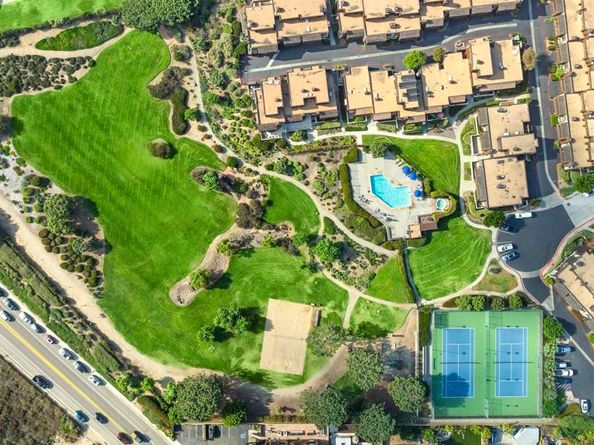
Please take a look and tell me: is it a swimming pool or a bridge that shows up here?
swimming pool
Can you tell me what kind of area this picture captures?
residential area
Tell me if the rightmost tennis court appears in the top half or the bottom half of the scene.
bottom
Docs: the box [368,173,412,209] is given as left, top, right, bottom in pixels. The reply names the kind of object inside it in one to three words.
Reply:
swimming pool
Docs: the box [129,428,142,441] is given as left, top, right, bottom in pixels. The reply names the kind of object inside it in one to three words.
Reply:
vehicle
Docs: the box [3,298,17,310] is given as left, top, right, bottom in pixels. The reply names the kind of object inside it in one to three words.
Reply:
vehicle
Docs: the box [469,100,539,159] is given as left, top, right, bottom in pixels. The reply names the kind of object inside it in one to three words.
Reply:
house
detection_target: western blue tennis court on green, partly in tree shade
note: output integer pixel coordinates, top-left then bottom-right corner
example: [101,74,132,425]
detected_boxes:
[432,312,487,417]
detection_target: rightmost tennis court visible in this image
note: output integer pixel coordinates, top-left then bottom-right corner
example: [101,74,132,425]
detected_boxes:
[487,312,538,417]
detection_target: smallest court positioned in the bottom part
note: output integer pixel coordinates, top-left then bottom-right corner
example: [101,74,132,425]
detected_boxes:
[260,298,312,375]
